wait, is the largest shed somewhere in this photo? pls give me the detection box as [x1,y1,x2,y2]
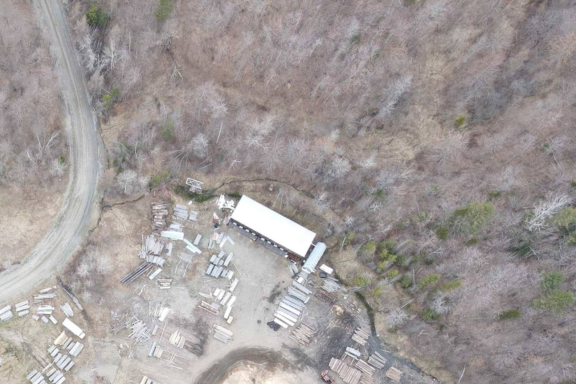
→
[228,195,316,259]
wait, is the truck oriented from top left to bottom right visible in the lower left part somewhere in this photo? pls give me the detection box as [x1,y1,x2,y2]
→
[62,317,86,338]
